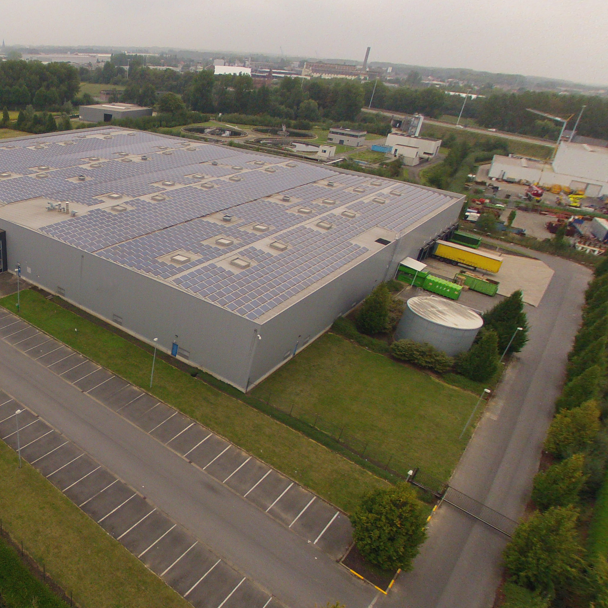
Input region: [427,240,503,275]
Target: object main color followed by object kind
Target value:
yellow trailer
